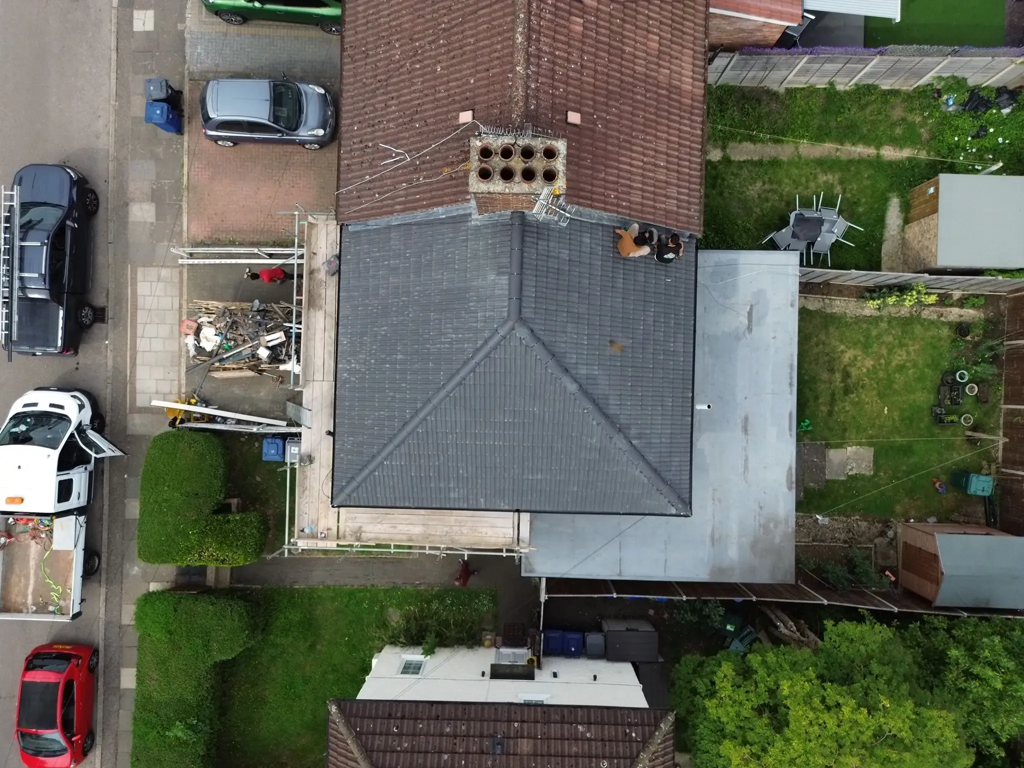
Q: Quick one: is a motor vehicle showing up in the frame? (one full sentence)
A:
Yes, the photo shows a motor vehicle.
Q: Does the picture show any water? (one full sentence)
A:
No, no water is visible.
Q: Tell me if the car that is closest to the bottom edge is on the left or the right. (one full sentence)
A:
It is on the left.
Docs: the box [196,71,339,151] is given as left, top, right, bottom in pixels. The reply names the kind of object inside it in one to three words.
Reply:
car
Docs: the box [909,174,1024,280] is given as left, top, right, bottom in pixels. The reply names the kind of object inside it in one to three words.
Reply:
shed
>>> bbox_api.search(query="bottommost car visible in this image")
[2,637,96,768]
